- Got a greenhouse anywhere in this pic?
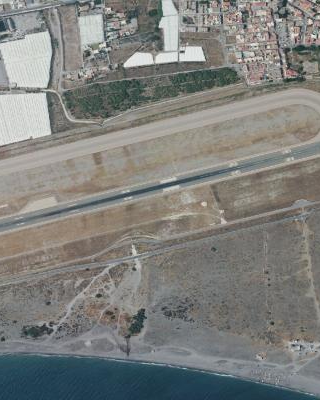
Yes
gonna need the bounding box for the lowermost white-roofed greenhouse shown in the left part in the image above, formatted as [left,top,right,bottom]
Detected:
[0,93,51,145]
